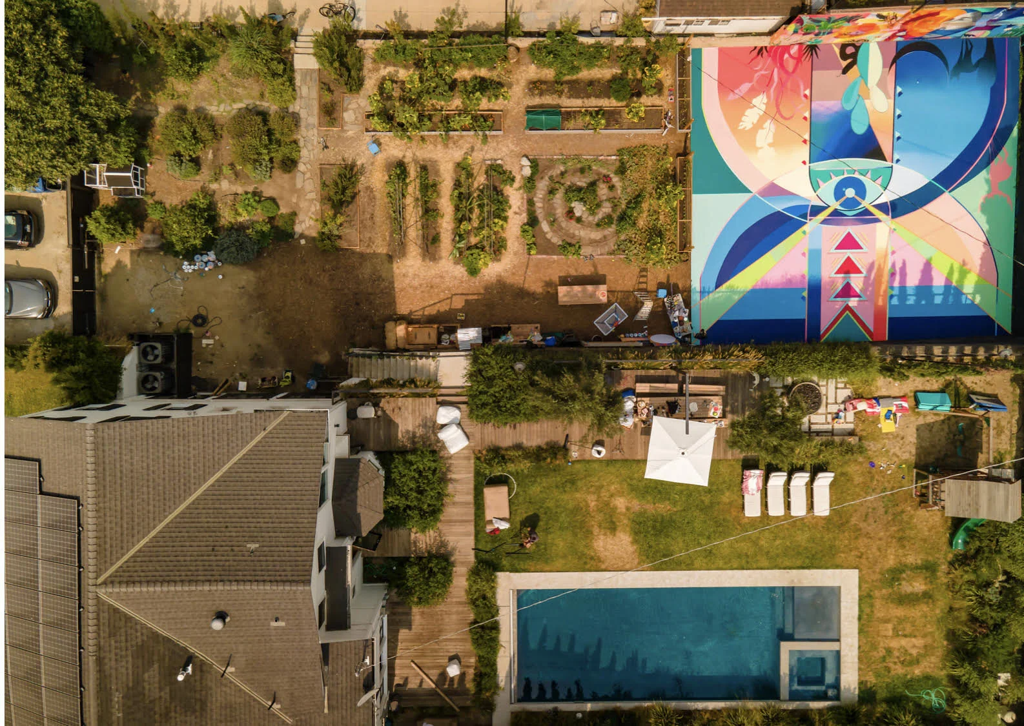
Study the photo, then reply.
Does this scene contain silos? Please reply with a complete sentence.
No, the frame has no silo in it.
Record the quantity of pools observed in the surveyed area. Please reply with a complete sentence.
The picture shows 1 pool.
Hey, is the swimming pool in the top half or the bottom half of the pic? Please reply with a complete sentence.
Seen from above, the swimming pool lies in the bottom half of the view.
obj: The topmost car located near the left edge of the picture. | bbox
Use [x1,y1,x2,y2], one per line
[0,206,41,253]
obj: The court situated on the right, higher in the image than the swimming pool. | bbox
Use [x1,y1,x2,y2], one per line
[690,40,1021,347]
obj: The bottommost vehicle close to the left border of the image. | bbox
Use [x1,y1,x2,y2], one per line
[0,274,61,322]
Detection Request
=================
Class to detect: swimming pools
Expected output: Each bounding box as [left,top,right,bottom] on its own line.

[497,571,859,710]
